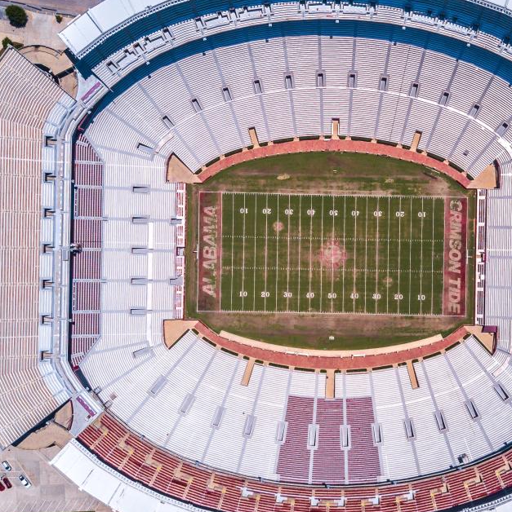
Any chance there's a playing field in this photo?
Yes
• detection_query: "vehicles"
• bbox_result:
[0,481,6,491]
[1,459,13,473]
[18,474,31,489]
[2,476,14,489]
